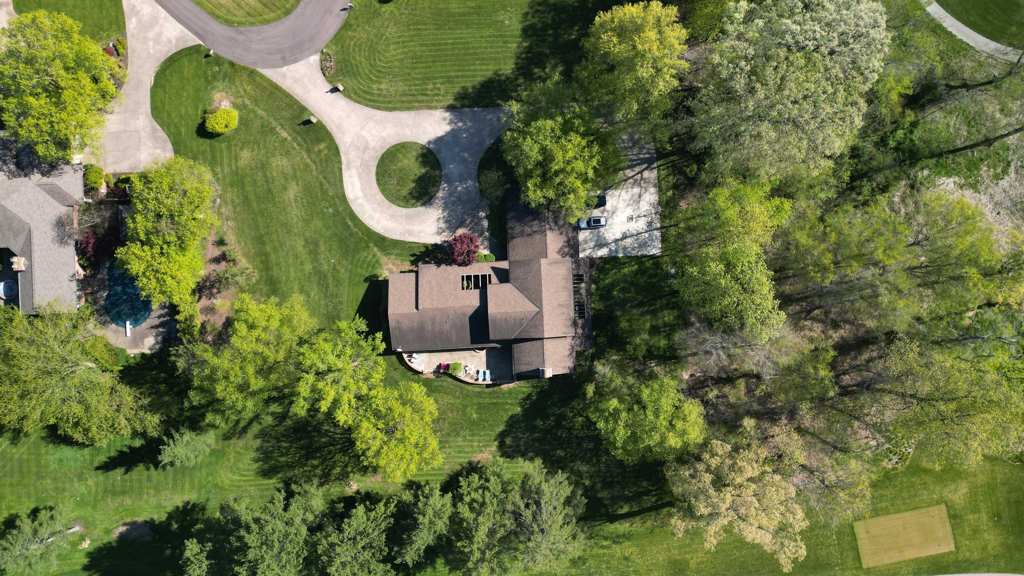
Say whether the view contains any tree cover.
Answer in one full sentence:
Yes, some tree cover is visible.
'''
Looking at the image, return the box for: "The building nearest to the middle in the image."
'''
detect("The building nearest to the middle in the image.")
[388,181,594,379]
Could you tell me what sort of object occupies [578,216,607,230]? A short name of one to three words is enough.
car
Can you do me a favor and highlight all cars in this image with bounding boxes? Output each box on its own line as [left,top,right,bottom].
[578,196,607,209]
[578,216,607,230]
